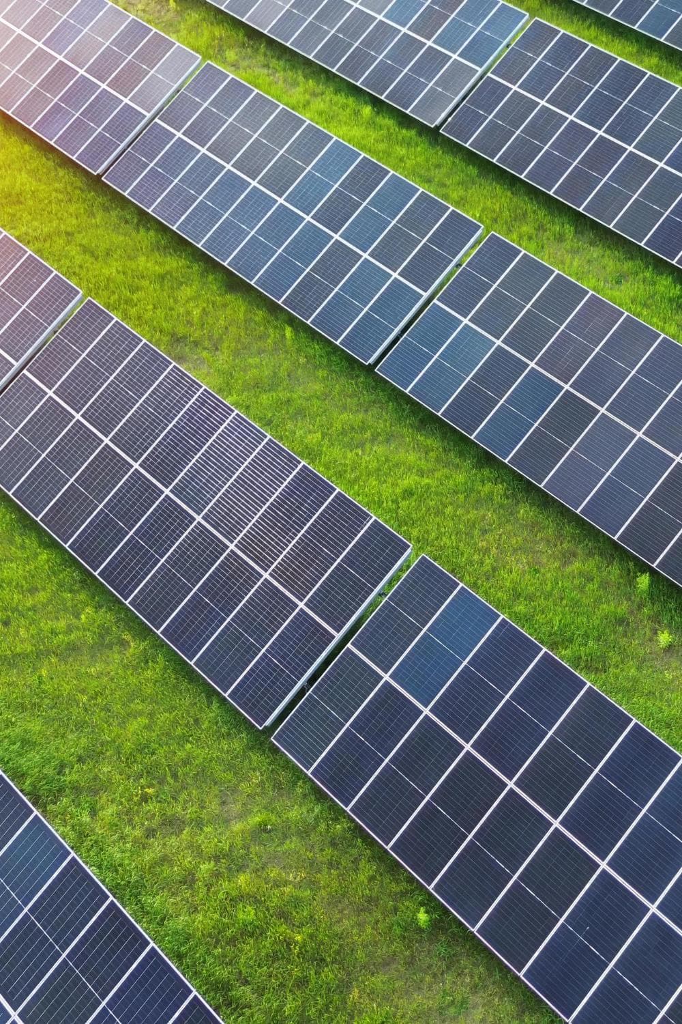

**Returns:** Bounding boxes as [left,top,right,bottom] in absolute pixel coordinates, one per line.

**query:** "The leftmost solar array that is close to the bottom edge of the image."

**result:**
[0,773,225,1024]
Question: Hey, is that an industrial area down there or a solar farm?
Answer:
solar farm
